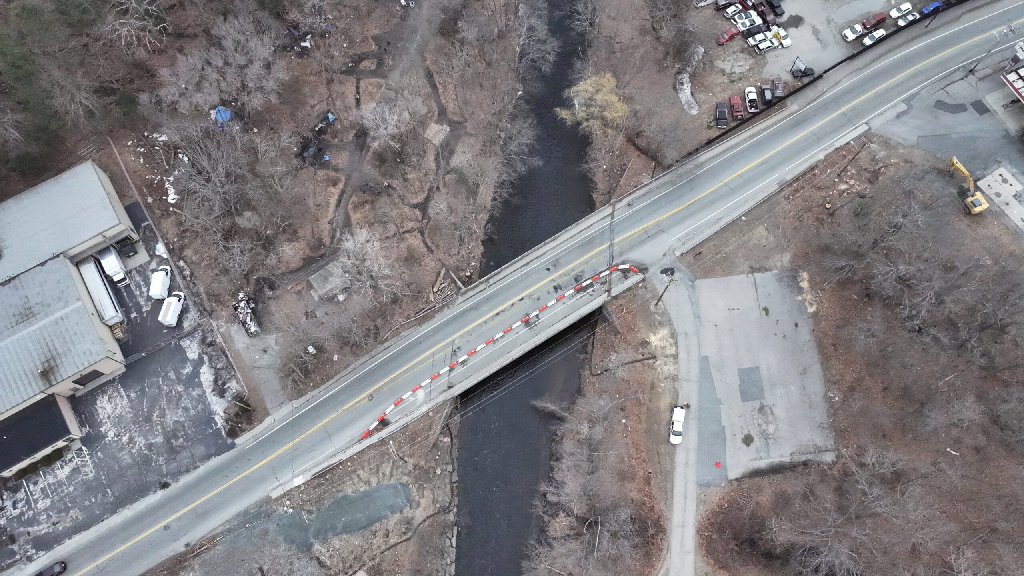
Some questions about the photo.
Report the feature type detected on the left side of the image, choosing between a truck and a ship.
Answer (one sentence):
Looking on the left side of the image, you will find a truck.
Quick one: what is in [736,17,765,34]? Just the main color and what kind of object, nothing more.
white car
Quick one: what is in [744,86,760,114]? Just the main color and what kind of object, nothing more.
white vehicle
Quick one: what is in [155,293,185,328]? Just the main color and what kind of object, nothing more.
white van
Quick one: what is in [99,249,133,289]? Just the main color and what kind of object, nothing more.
white truck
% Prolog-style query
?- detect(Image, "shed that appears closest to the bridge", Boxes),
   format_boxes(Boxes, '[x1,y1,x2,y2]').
[309,261,351,296]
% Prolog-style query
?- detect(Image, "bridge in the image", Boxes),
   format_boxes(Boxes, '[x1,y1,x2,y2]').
[429,179,622,452]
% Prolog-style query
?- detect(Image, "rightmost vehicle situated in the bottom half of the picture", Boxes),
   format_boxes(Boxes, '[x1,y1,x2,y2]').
[670,406,686,445]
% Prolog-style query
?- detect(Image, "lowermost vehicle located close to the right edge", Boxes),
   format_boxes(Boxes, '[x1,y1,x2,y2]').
[943,157,988,221]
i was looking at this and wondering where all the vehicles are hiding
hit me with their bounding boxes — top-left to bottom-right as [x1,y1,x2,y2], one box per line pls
[744,86,760,114]
[740,24,771,42]
[861,27,888,47]
[745,32,774,50]
[712,0,740,13]
[771,76,785,100]
[894,10,922,27]
[765,0,788,18]
[730,10,759,27]
[772,26,792,48]
[843,16,878,41]
[729,95,746,122]
[155,293,185,328]
[670,406,686,445]
[35,560,69,576]
[790,67,817,81]
[738,0,752,11]
[753,39,782,58]
[99,249,133,289]
[693,0,717,8]
[145,267,173,301]
[759,83,775,106]
[753,0,777,26]
[863,10,889,32]
[714,26,741,46]
[943,157,988,221]
[736,17,765,34]
[721,3,744,20]
[887,0,916,20]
